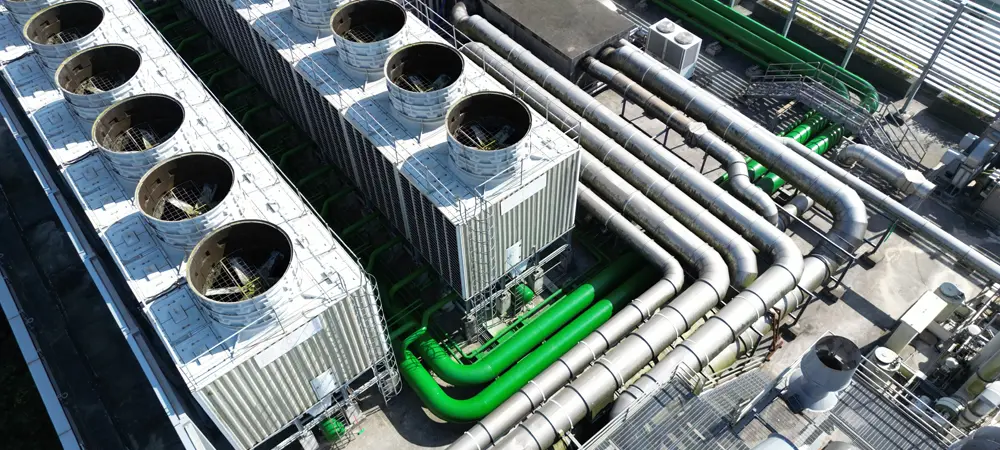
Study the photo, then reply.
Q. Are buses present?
No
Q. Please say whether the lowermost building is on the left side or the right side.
left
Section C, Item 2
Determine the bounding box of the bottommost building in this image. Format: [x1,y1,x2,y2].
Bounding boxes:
[0,73,225,450]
